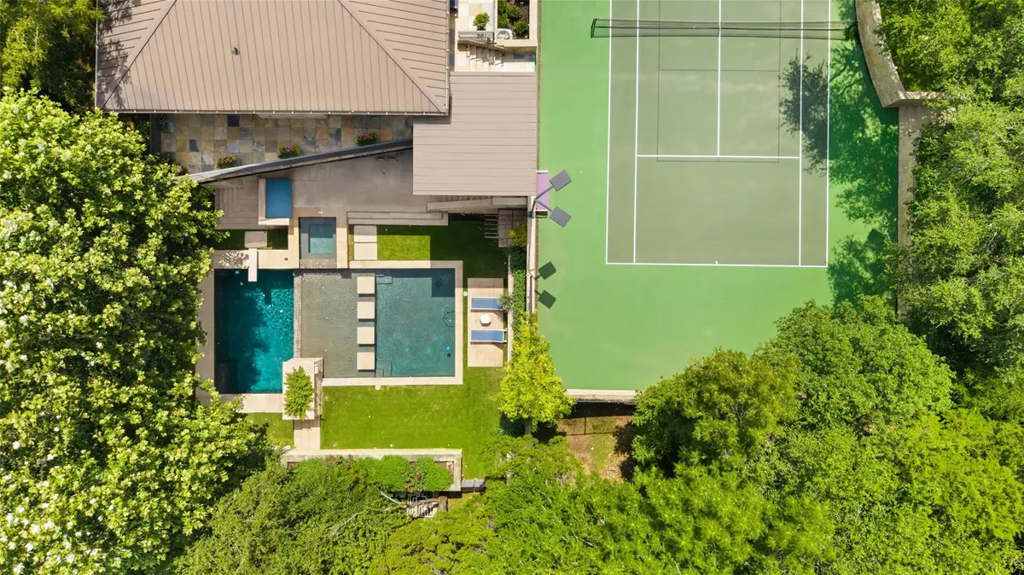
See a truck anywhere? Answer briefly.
No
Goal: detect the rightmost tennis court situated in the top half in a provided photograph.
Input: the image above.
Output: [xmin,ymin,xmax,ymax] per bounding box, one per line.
[540,0,899,390]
